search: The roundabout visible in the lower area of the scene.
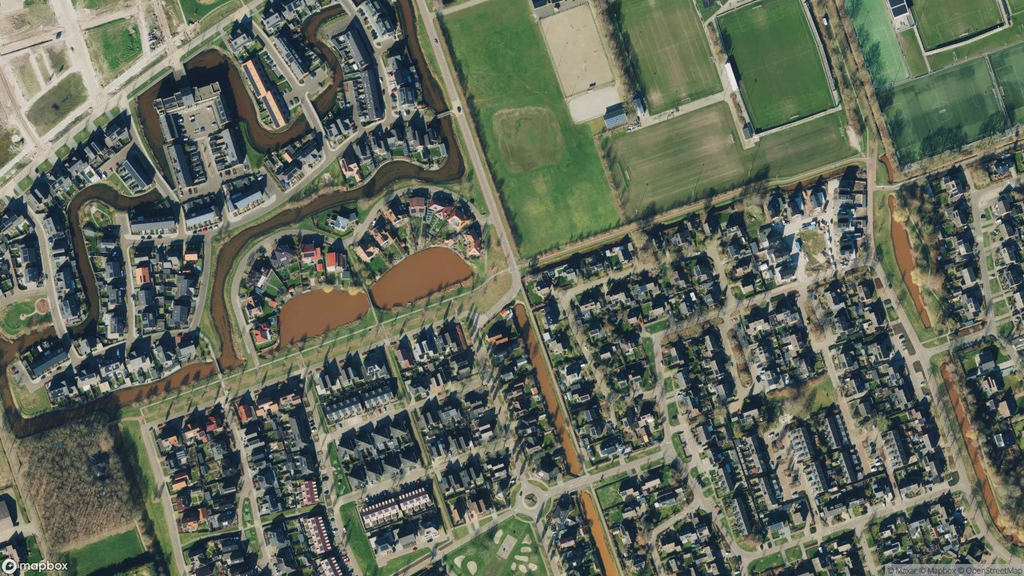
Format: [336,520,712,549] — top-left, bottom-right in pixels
[514,483,549,515]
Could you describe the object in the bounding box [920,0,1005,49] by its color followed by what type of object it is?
green soccer field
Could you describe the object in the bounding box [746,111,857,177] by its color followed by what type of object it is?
green soccer field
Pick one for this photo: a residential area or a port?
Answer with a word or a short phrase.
residential area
